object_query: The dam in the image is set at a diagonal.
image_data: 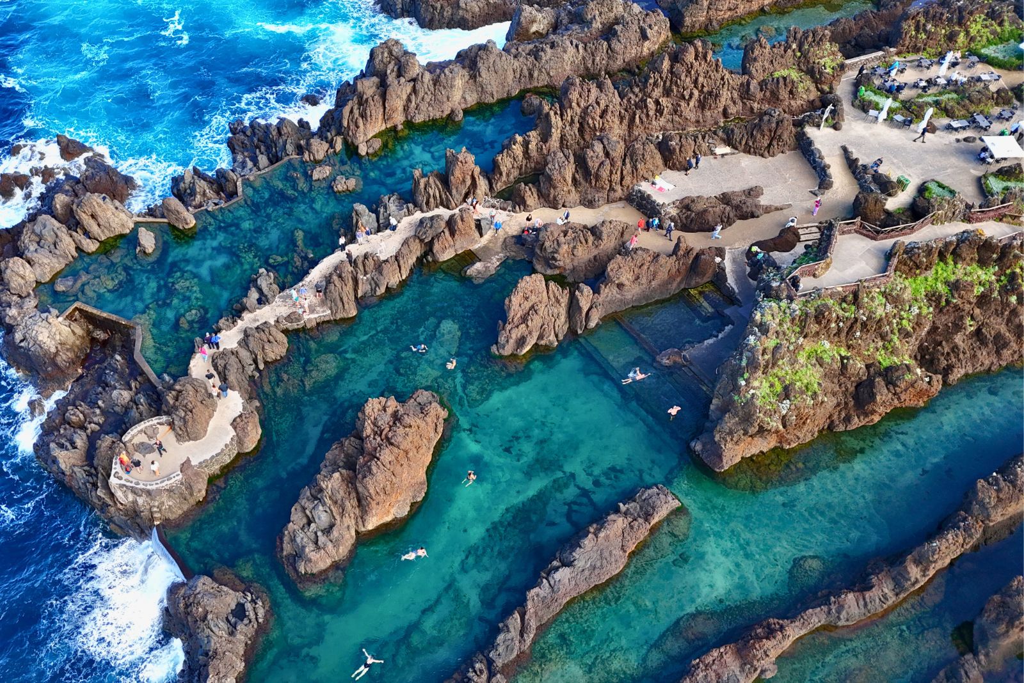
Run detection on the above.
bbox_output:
[151,526,187,578]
